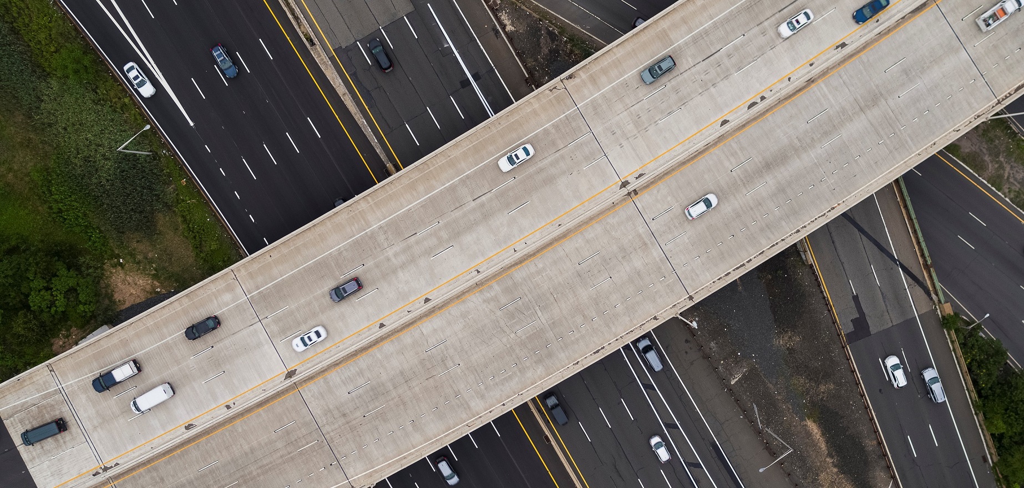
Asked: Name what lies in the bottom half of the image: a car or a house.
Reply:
car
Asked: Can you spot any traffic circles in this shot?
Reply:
No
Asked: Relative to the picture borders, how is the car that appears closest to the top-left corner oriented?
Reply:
at an angle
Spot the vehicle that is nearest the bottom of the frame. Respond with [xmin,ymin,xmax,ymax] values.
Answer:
[434,454,460,487]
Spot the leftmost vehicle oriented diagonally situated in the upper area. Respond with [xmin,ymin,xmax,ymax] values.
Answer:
[123,62,156,99]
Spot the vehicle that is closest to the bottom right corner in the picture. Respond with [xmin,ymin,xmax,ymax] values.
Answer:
[921,368,947,404]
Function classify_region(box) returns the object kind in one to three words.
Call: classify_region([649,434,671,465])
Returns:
car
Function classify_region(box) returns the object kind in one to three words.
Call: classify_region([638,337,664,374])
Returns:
car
